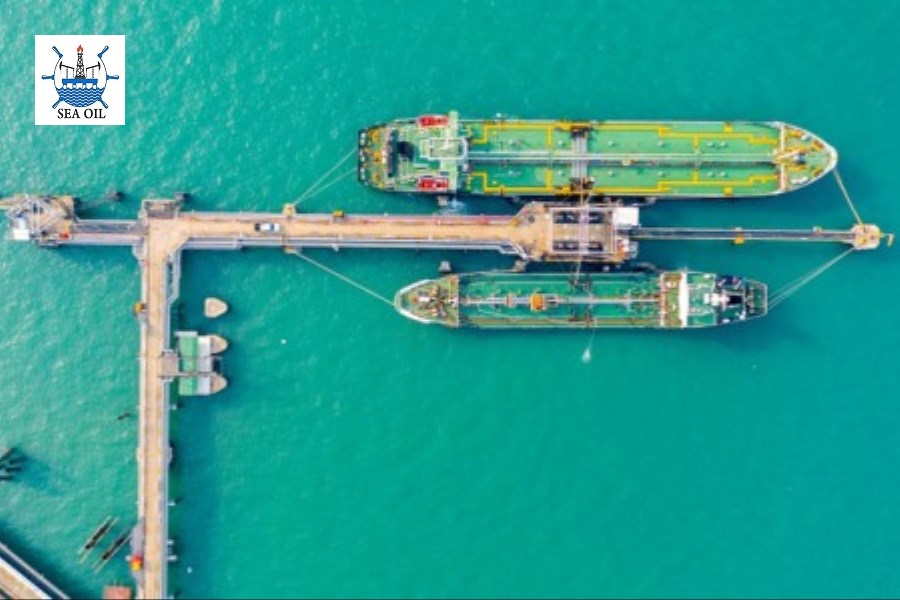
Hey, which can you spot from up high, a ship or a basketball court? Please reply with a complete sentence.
Visible in the photo is a ship.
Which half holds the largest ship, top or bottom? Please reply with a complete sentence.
It is in the top half that the largest ship appears.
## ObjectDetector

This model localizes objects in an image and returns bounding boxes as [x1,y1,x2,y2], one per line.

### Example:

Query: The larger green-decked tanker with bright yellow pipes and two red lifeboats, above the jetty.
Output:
[359,111,838,199]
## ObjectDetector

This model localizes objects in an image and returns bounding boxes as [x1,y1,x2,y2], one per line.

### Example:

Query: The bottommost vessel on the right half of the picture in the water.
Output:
[395,266,769,329]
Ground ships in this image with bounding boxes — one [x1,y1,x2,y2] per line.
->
[395,266,769,329]
[359,111,838,199]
